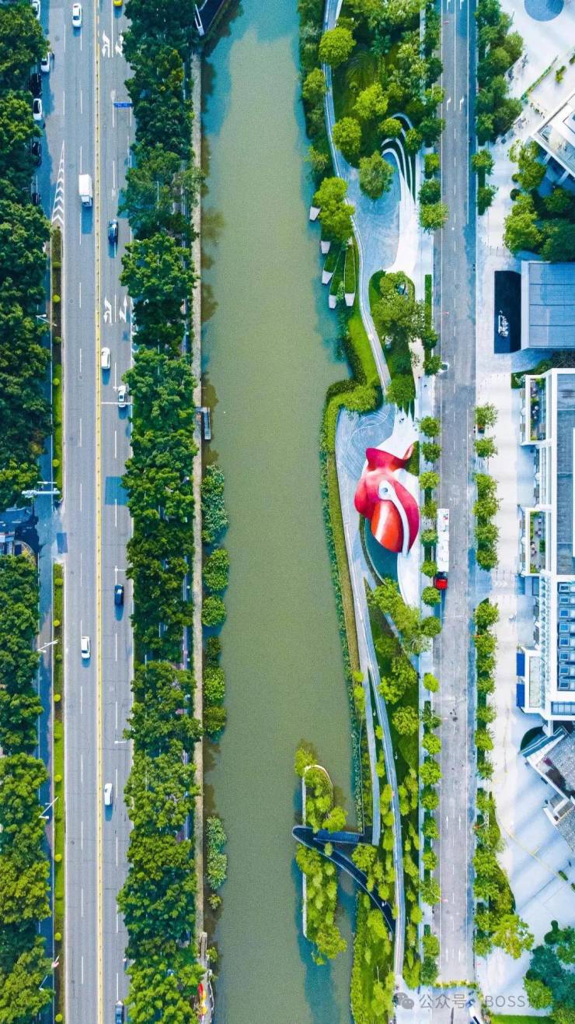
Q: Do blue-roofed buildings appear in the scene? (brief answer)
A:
Yes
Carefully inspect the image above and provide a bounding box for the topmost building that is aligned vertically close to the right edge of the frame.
[530,93,575,195]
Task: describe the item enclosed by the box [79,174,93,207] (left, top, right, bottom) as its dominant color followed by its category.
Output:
white vehicle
